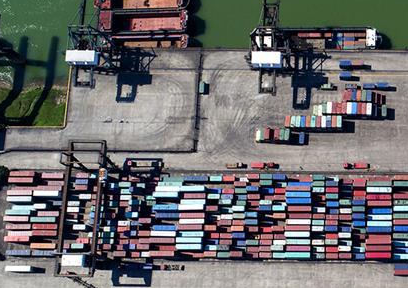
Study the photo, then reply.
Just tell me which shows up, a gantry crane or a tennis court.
gantry crane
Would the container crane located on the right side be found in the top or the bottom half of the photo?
top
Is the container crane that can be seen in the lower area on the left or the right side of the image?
left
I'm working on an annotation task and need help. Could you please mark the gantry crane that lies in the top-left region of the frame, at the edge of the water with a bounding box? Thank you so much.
[63,0,126,88]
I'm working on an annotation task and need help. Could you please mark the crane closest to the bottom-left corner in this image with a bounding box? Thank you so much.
[55,141,125,288]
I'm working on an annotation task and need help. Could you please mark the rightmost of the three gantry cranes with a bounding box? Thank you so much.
[249,0,306,94]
